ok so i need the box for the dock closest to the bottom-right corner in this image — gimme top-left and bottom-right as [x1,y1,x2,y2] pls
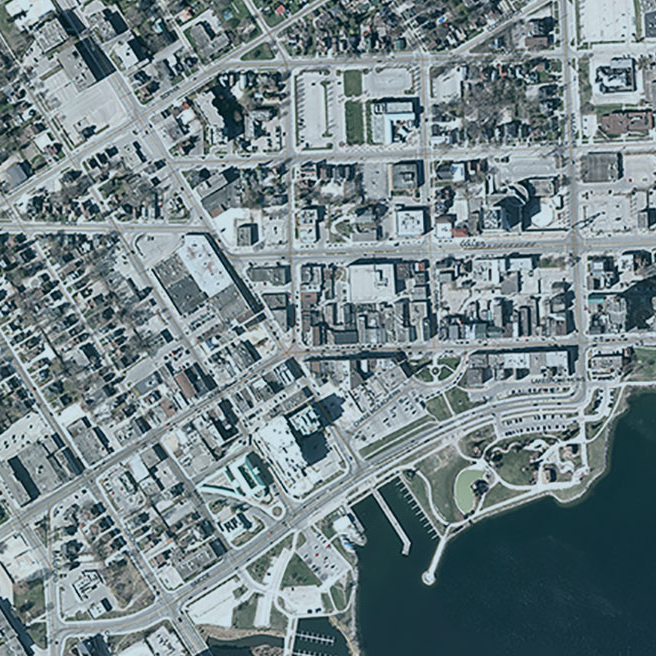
[422,524,450,583]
